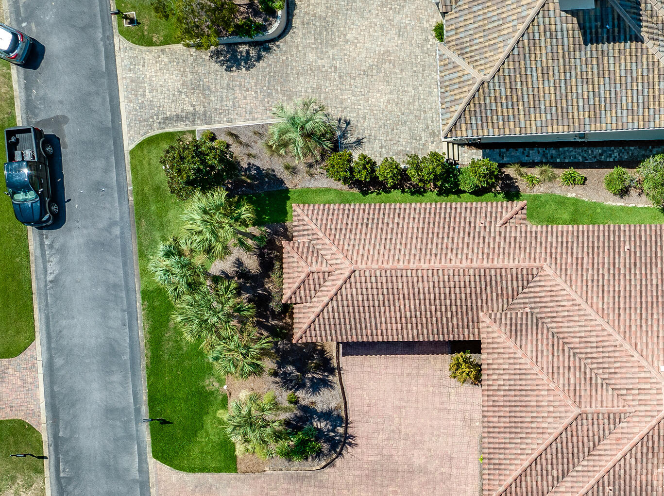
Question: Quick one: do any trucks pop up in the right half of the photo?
No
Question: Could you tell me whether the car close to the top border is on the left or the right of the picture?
left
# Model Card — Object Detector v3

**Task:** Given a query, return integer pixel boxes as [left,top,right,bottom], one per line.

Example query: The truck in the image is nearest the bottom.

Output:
[4,121,62,228]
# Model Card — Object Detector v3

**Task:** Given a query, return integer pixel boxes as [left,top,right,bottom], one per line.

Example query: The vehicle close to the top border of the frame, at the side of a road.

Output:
[0,20,38,65]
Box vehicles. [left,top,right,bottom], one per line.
[0,20,38,65]
[4,121,62,228]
